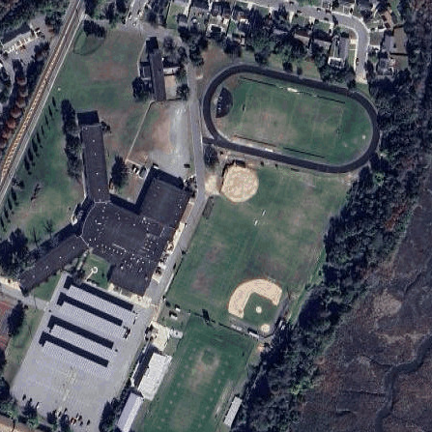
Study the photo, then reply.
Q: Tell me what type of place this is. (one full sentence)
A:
It's a sports ground.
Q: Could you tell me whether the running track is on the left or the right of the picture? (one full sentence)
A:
You can find the running track on the right side of the picture.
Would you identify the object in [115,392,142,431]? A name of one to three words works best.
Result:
building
